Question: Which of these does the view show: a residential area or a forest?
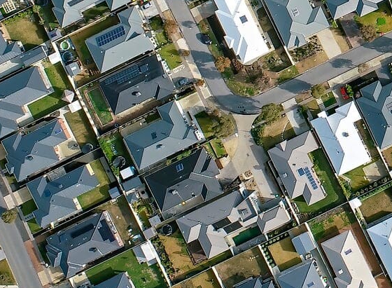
residential area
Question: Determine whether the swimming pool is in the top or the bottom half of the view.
bottom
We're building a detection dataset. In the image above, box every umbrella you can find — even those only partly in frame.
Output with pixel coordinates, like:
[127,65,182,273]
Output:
[68,139,79,149]
[63,89,76,102]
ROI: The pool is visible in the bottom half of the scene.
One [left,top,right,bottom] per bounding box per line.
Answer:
[231,226,261,249]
